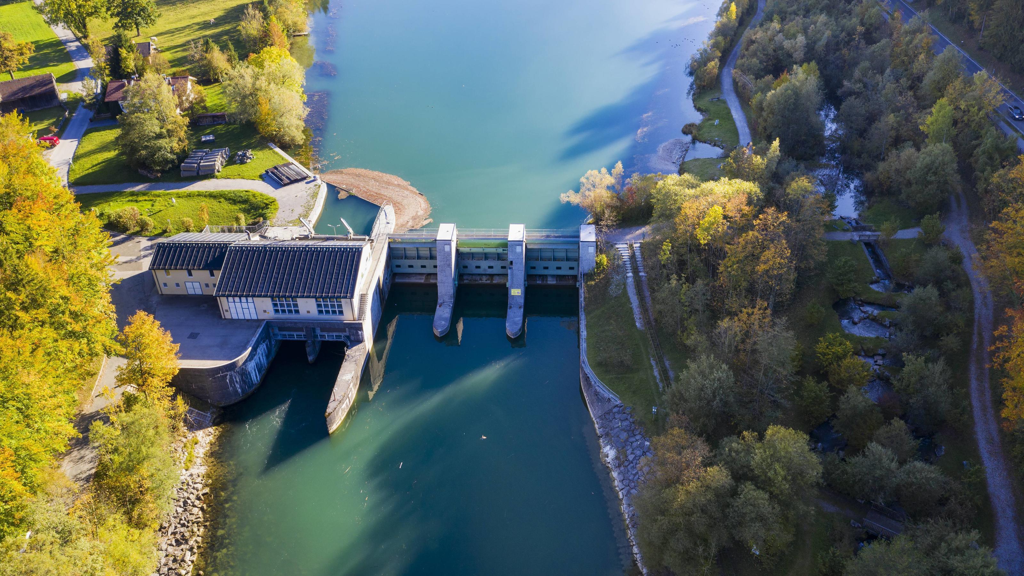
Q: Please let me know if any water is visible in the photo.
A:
Yes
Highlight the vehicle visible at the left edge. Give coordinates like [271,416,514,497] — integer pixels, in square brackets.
[36,135,59,148]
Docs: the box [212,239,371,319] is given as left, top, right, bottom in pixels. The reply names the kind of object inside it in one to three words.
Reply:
building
